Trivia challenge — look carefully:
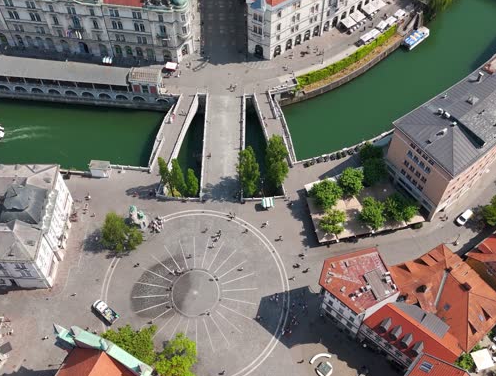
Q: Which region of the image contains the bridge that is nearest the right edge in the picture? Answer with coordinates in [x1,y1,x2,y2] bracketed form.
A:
[253,91,297,193]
